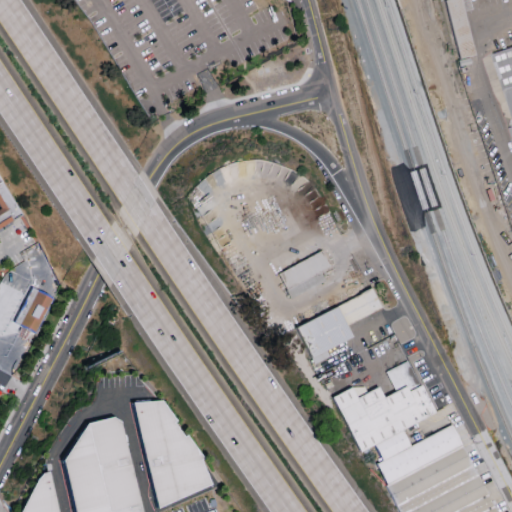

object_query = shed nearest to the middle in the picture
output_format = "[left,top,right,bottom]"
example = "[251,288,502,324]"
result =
[281,252,332,297]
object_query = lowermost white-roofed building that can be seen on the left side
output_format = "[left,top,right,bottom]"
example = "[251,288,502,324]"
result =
[23,472,60,512]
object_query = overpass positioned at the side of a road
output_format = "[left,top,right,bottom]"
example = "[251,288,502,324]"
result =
[90,167,166,287]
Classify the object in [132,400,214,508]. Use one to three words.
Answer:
building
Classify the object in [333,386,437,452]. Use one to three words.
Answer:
building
